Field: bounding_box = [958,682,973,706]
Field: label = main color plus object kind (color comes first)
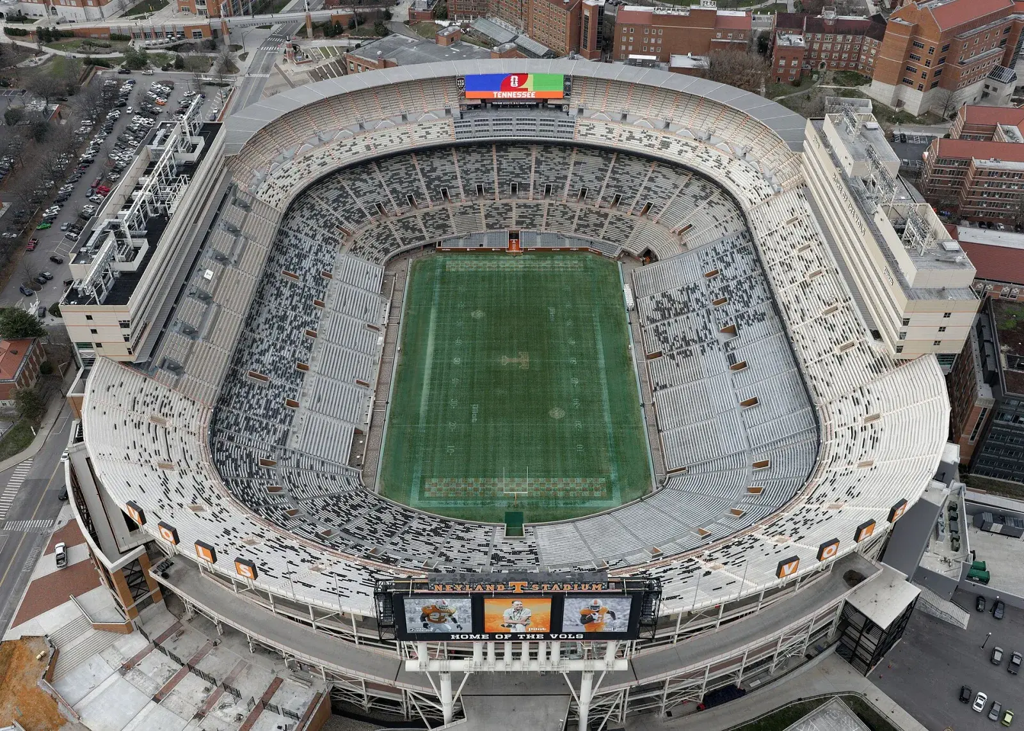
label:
black car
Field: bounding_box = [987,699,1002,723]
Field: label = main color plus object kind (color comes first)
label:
gray car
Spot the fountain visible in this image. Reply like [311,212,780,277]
[287,44,314,64]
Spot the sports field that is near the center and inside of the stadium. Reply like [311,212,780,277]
[375,243,655,524]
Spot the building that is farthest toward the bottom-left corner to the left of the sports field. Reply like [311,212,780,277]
[64,441,176,631]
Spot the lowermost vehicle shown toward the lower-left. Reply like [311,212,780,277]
[54,543,67,566]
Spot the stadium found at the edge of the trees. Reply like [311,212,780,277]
[81,57,949,658]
